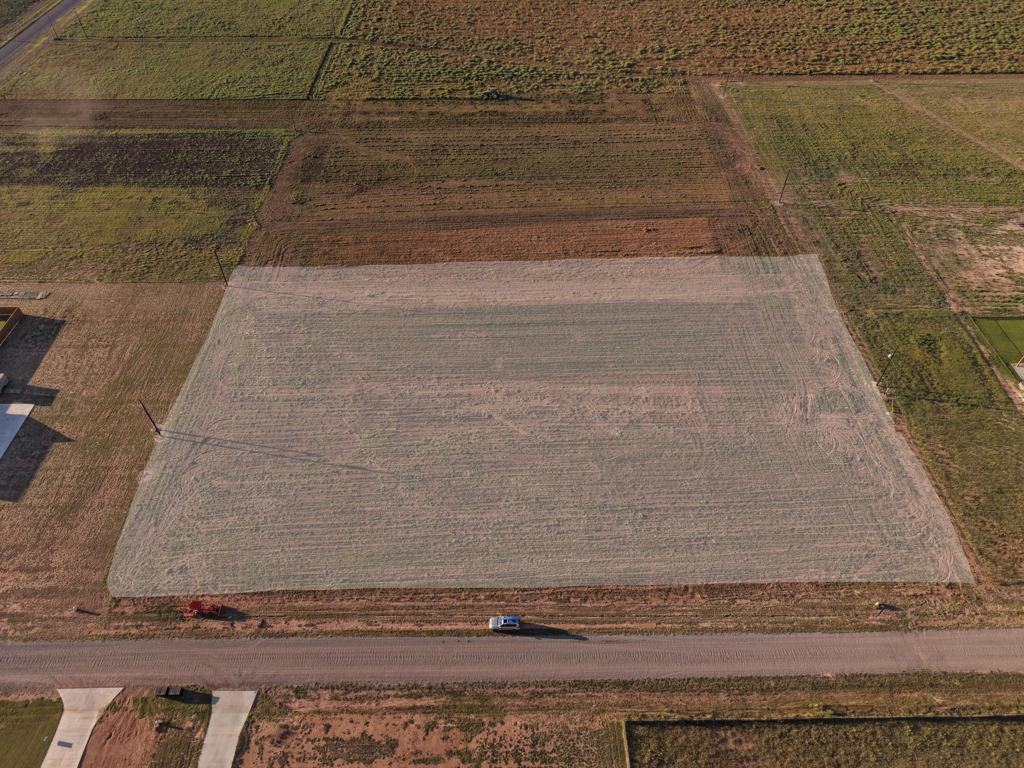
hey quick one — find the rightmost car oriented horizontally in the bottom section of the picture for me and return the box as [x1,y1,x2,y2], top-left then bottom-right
[489,617,521,632]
